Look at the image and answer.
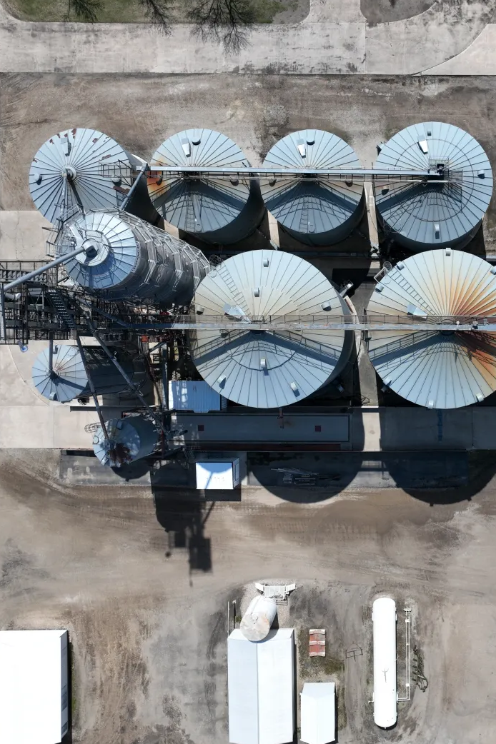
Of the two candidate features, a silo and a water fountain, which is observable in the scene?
silo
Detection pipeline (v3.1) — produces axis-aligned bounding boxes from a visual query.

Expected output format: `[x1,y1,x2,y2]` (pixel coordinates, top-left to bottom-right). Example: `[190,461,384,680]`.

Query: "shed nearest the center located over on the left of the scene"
[168,380,227,420]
